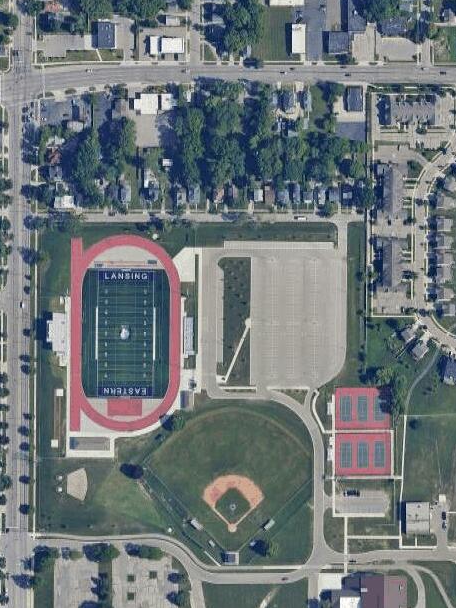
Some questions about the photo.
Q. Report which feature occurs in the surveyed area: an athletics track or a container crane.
athletics track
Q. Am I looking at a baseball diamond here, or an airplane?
baseball diamond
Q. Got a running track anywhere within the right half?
No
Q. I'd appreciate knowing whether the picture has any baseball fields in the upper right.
No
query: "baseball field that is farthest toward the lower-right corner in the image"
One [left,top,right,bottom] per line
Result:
[149,406,311,553]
